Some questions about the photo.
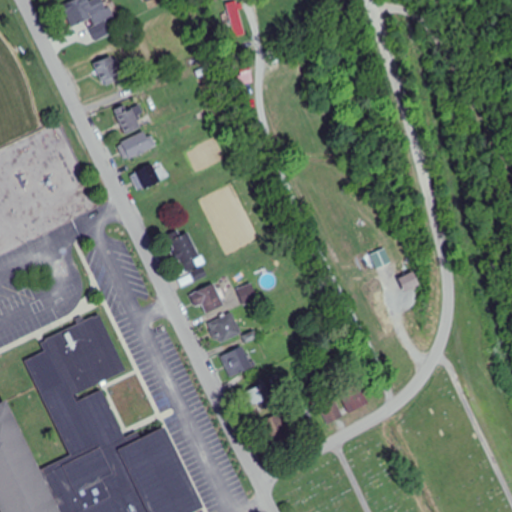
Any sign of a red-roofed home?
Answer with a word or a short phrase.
Yes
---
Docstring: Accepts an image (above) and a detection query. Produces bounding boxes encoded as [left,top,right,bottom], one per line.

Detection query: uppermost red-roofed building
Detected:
[226,1,244,36]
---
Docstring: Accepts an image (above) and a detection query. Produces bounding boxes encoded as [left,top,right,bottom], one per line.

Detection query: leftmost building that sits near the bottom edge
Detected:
[22,315,203,512]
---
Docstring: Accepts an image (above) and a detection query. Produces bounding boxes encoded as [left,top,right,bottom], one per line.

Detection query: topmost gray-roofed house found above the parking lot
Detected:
[64,0,116,44]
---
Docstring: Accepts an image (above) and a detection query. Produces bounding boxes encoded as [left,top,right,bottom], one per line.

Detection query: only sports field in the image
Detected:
[0,31,42,146]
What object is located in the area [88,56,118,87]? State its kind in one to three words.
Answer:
house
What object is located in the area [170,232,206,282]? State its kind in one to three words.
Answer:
house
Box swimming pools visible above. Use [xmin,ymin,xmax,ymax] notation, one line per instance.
[259,273,276,290]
